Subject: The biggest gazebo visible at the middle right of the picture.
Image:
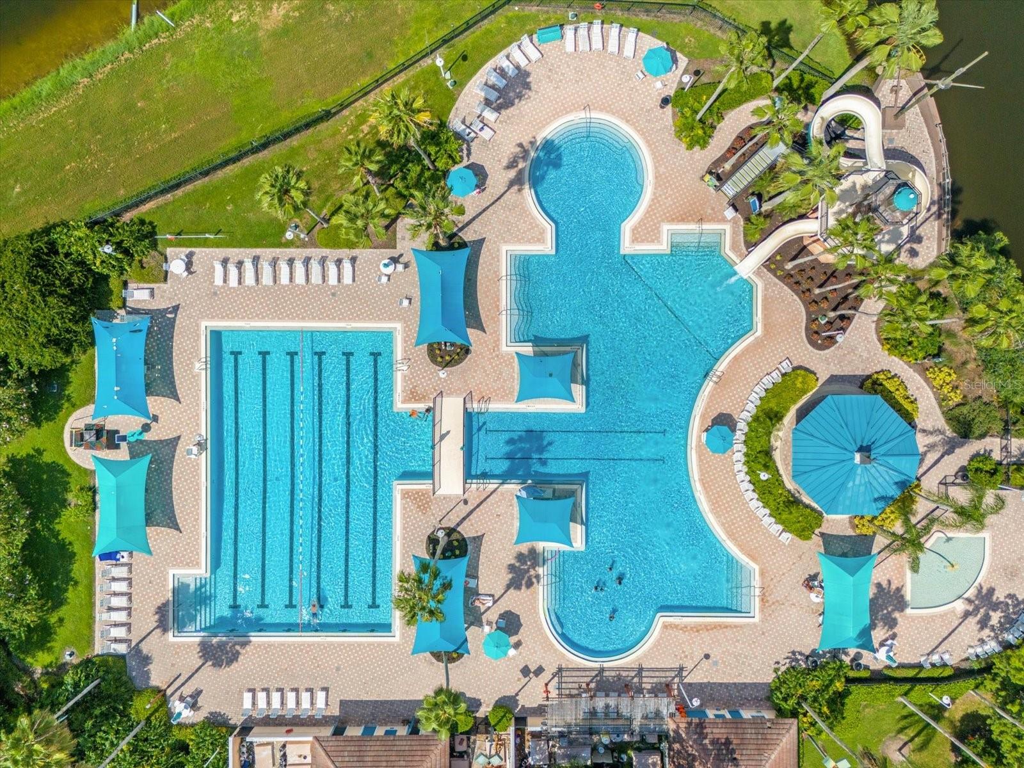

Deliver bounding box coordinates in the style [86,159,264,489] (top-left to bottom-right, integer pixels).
[784,394,921,516]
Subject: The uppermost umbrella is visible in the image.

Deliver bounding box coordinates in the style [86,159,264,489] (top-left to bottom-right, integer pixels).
[642,47,673,78]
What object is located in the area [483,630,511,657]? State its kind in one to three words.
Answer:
umbrella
